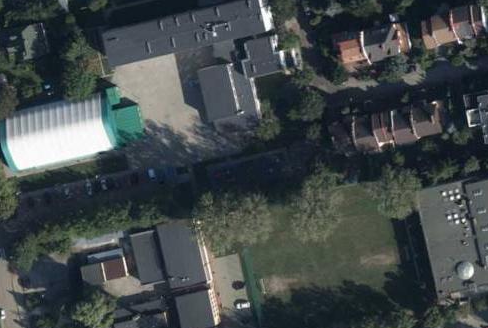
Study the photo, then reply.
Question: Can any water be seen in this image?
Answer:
No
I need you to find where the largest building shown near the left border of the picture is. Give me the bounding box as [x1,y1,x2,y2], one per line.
[1,95,120,173]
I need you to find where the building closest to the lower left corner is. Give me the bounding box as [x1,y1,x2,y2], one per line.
[81,262,107,288]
